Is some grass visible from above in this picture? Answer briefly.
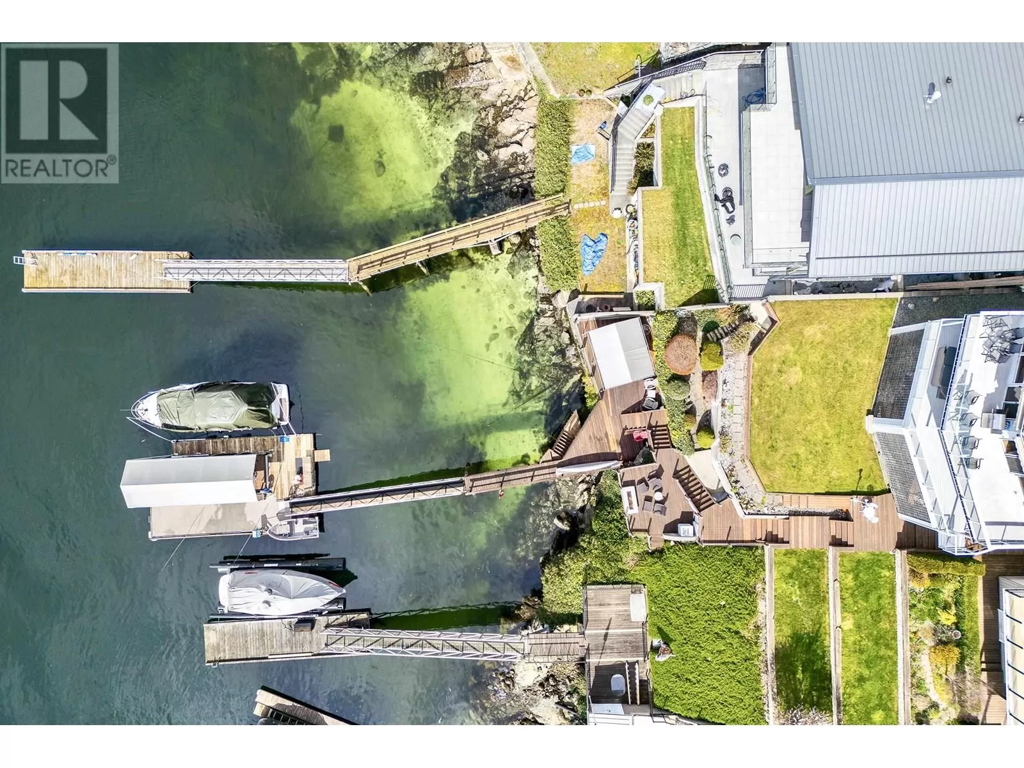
Yes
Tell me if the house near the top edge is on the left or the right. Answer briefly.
right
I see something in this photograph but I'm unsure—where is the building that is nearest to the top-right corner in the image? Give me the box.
[741,0,1024,280]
